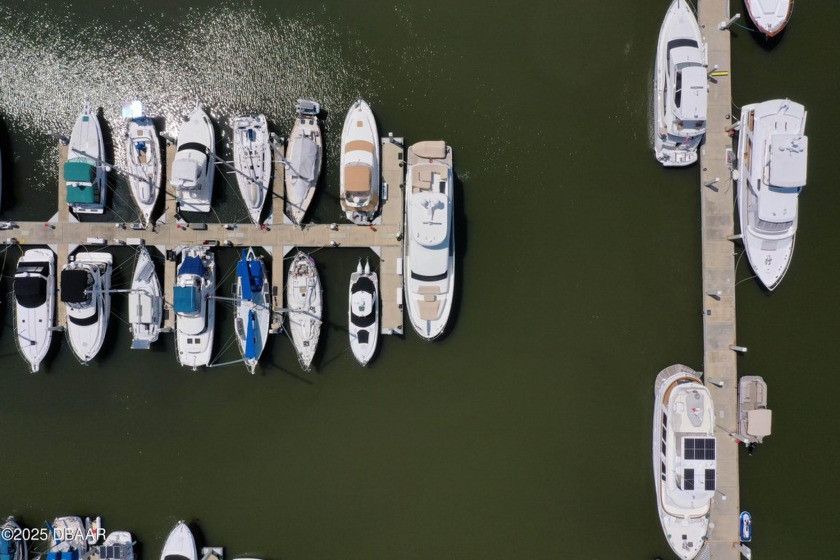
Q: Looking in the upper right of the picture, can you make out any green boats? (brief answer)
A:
No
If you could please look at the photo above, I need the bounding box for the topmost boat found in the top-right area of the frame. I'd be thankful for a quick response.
[733,0,798,40]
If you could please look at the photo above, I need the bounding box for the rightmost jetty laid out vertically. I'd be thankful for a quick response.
[695,0,739,560]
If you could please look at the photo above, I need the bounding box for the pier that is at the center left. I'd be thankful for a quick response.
[0,134,404,335]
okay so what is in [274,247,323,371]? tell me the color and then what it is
white boat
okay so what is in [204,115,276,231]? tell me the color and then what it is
white boat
